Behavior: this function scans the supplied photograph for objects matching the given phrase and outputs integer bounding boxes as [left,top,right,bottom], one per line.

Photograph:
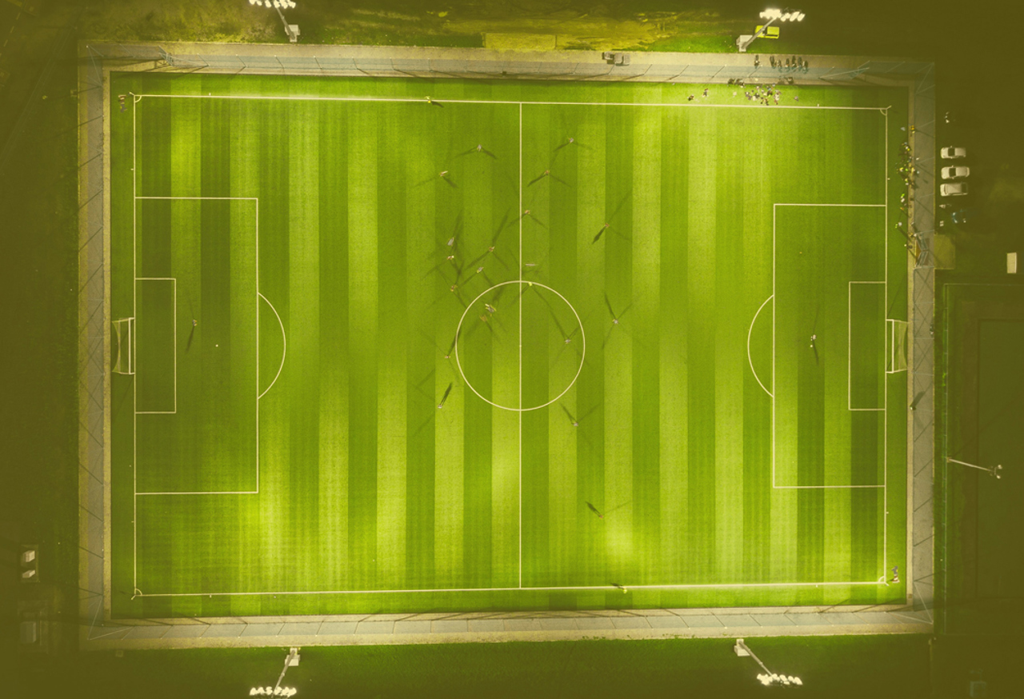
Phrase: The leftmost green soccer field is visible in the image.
[110,71,908,620]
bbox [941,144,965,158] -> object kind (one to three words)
car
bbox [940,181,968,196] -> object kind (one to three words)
vehicle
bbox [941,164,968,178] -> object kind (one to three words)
car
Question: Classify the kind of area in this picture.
sports ground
